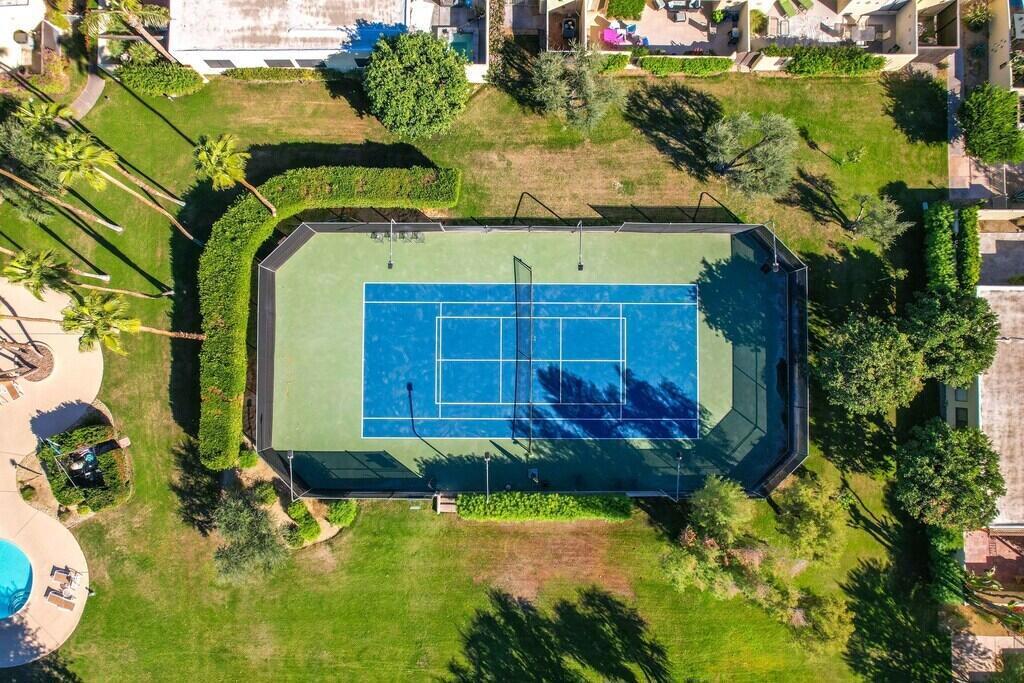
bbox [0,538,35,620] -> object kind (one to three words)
swimming pool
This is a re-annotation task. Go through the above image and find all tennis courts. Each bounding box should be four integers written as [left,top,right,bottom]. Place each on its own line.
[272,231,788,495]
